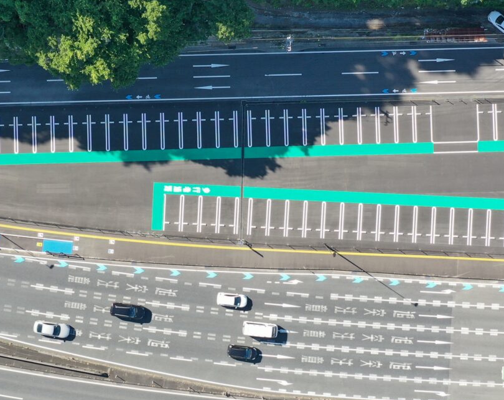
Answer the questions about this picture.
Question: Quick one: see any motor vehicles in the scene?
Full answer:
Yes, this view includes a motor vehicle.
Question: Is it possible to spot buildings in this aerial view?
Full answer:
No, no building is visible in the view.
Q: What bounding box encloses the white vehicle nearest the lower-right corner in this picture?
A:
[244,321,276,339]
